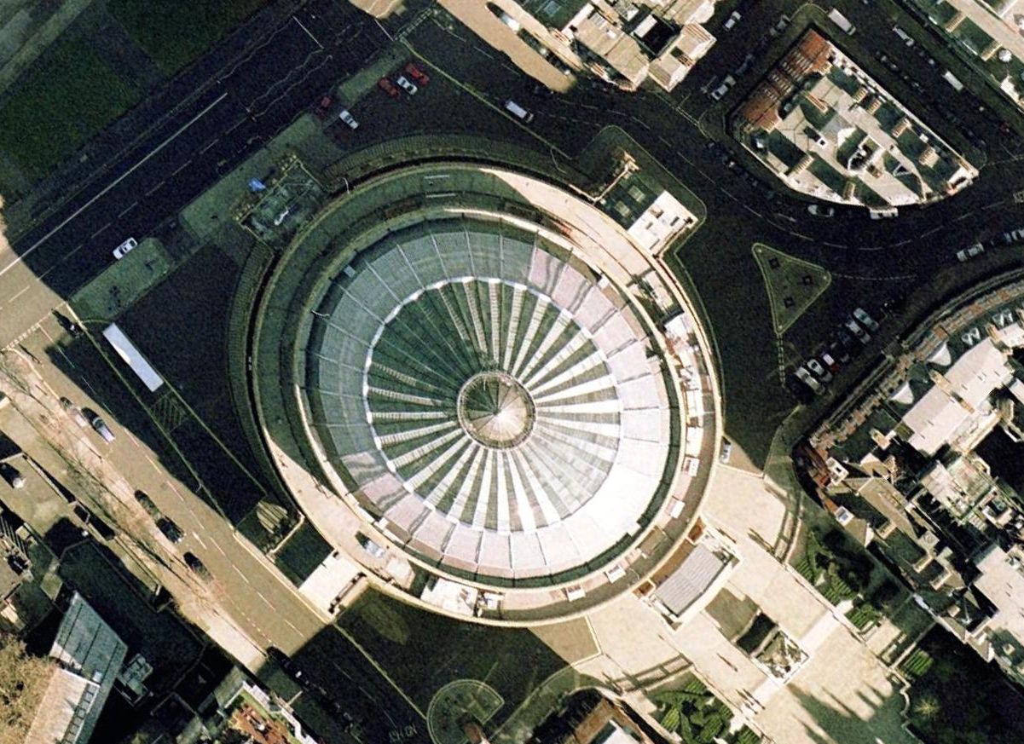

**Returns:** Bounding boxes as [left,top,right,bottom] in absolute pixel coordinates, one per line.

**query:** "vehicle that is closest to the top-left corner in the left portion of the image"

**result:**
[112,237,139,259]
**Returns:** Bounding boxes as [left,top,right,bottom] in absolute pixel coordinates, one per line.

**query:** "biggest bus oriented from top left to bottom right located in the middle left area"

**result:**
[100,320,168,393]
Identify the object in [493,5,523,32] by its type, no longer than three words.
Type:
car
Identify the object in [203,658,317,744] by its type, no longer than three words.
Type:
house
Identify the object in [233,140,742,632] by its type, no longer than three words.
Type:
building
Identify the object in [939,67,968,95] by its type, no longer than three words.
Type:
van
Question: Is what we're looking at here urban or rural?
urban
